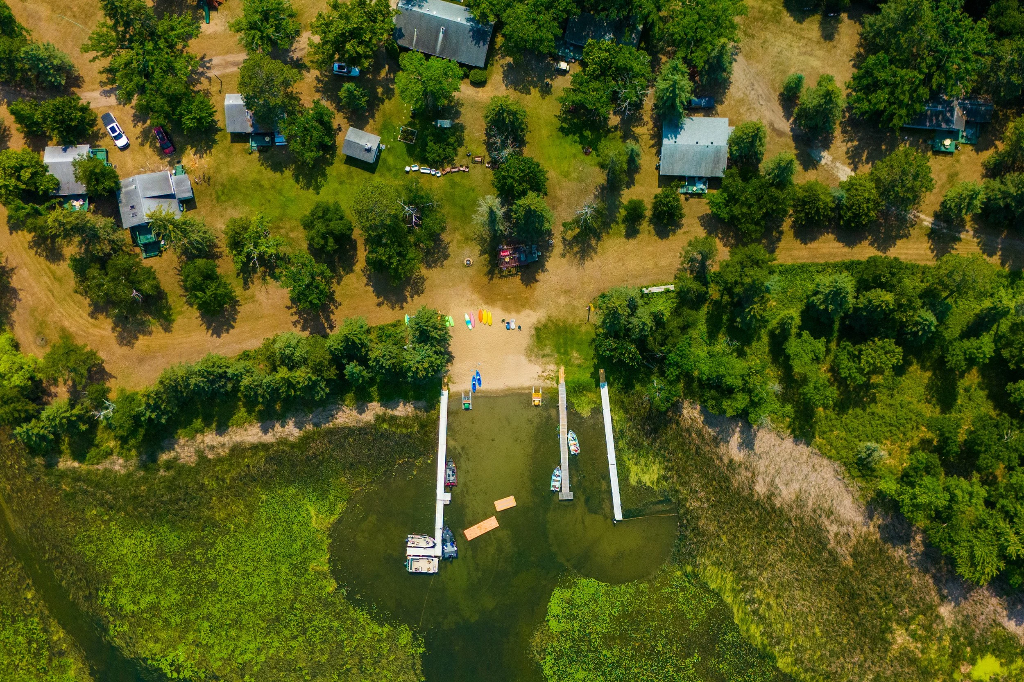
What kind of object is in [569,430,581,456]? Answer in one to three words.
boat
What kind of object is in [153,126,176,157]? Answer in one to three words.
car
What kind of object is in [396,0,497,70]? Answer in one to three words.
building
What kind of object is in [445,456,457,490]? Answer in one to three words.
boat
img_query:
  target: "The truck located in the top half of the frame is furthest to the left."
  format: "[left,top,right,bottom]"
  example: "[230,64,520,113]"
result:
[103,110,132,150]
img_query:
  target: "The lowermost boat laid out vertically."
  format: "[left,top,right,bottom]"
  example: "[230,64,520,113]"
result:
[443,525,458,562]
